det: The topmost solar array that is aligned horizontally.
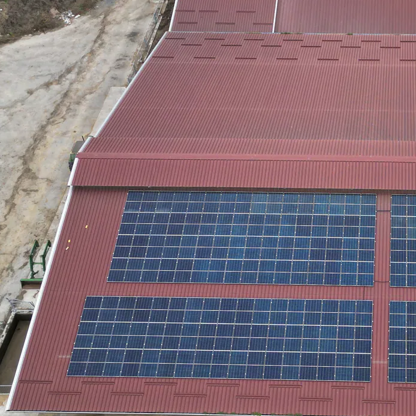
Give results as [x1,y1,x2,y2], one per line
[107,190,378,286]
